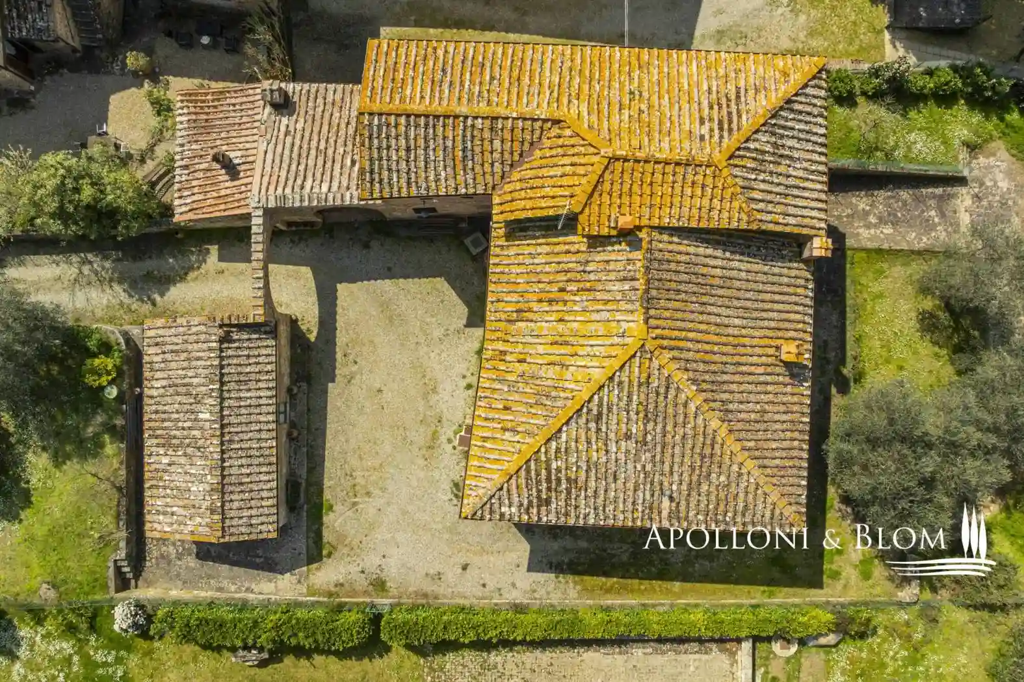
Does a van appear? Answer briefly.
No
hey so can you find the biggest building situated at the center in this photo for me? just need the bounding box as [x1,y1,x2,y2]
[356,36,831,531]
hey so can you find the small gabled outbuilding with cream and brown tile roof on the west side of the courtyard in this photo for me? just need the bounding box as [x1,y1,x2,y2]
[141,313,291,546]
